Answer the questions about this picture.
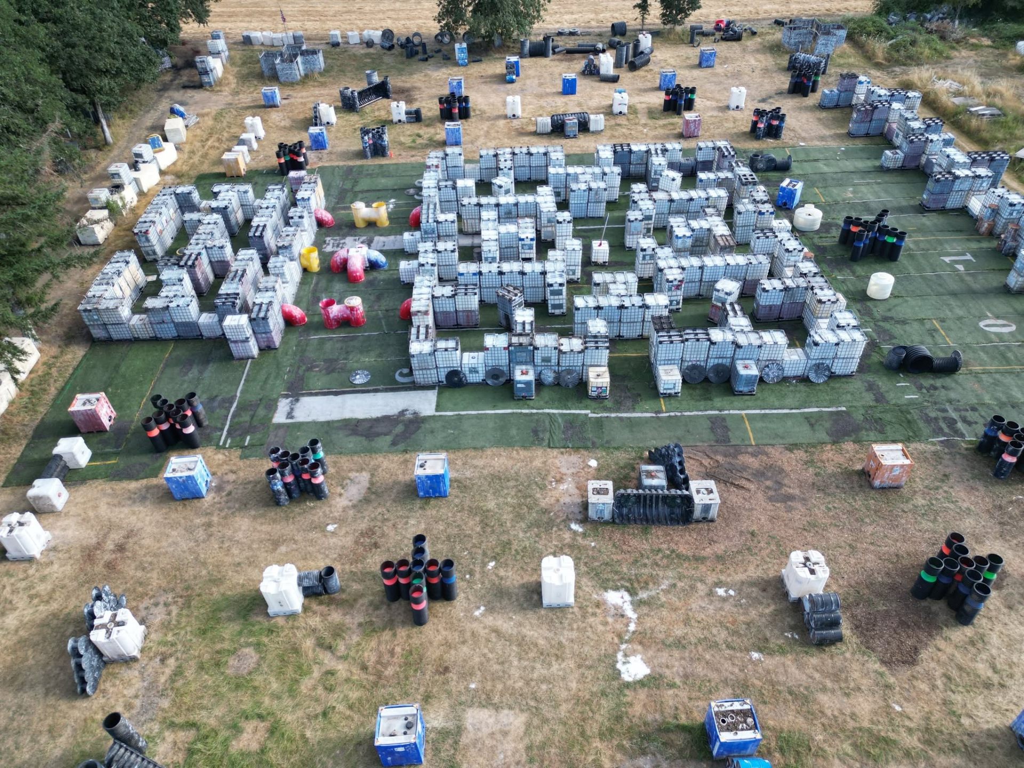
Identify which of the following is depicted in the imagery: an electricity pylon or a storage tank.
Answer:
storage tank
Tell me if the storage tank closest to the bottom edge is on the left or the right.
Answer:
left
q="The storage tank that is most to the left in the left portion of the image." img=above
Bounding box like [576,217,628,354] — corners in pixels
[0,518,48,560]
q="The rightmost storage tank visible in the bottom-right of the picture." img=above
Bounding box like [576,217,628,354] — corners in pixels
[780,553,826,600]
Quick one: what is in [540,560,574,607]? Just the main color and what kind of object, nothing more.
white storage tank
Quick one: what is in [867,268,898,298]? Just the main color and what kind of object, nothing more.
white water tank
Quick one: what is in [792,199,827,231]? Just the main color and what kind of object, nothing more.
white water tank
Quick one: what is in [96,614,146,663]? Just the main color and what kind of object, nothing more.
white storage tank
